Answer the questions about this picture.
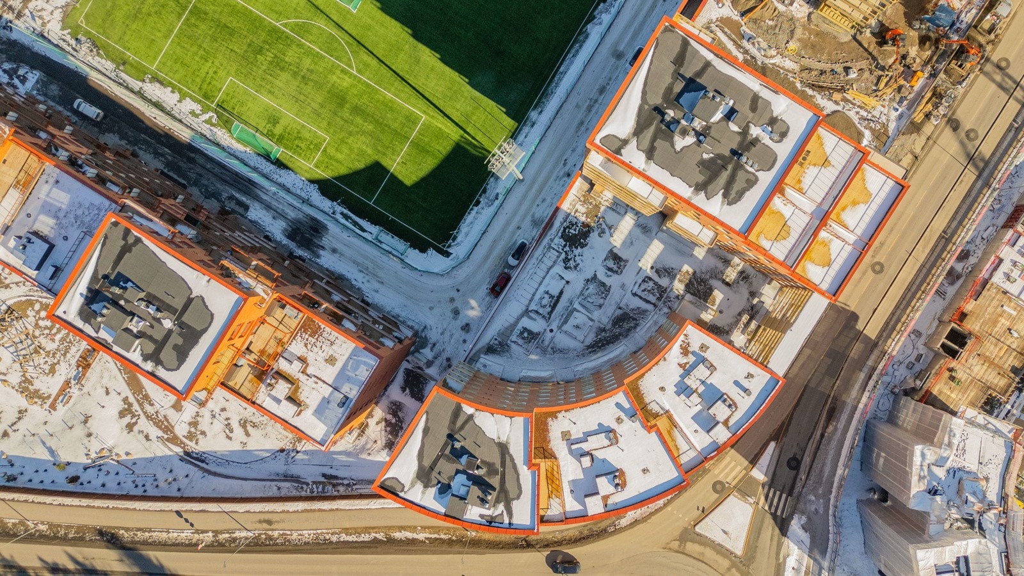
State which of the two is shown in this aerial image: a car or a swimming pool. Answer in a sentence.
This aerial view contains a car.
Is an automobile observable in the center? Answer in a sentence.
Yes, you'll find an automobile in the center.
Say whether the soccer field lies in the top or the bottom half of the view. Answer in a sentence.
It is in the top half that the soccer field appears.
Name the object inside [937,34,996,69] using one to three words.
work vehicle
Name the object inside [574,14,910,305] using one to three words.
building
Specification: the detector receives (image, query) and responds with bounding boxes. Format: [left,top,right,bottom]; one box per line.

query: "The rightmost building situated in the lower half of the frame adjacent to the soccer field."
[371,307,786,534]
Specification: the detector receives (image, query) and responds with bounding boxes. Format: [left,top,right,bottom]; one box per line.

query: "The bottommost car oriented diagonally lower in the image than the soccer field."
[490,271,512,299]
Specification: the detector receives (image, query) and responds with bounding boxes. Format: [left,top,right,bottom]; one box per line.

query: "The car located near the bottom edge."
[552,558,582,575]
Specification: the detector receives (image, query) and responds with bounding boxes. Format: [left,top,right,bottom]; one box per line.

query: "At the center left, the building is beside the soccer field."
[0,97,420,451]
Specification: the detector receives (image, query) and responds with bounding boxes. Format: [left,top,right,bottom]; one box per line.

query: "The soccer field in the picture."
[56,0,611,257]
